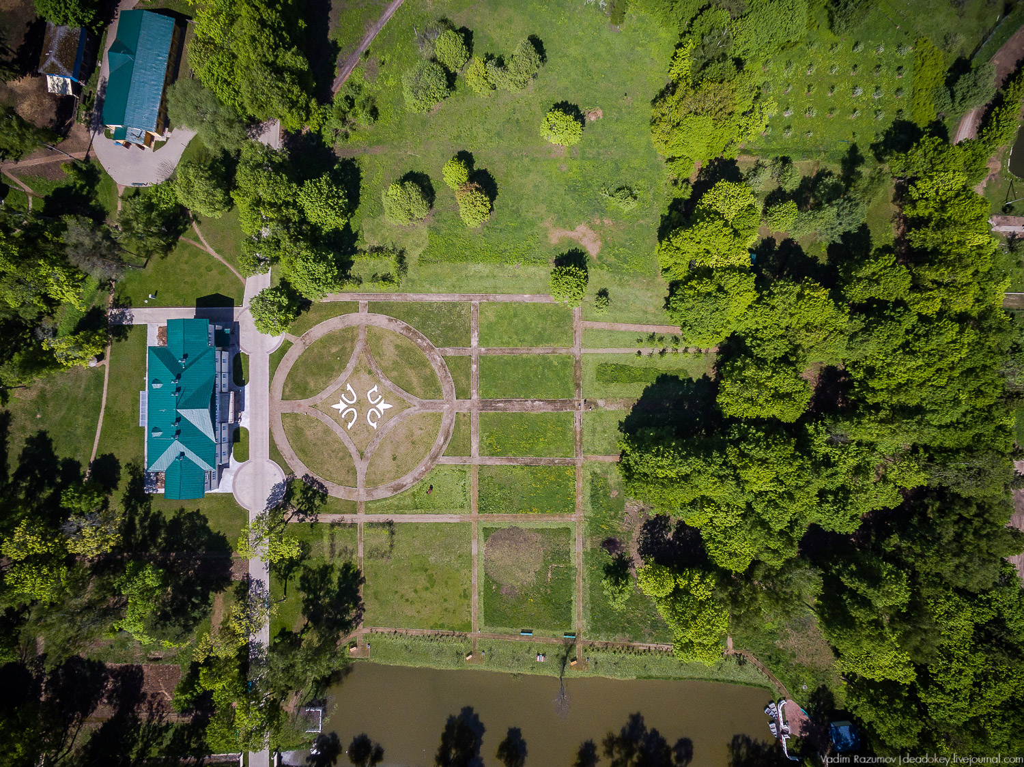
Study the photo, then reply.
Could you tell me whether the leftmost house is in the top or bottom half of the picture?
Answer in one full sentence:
It is in the top half that the leftmost house appears.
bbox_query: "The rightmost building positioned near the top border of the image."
[104,8,187,152]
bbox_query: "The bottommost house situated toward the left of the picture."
[139,318,247,500]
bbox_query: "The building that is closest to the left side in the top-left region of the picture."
[37,15,100,101]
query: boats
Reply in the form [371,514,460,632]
[768,702,777,717]
[768,722,776,737]
[763,707,776,718]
